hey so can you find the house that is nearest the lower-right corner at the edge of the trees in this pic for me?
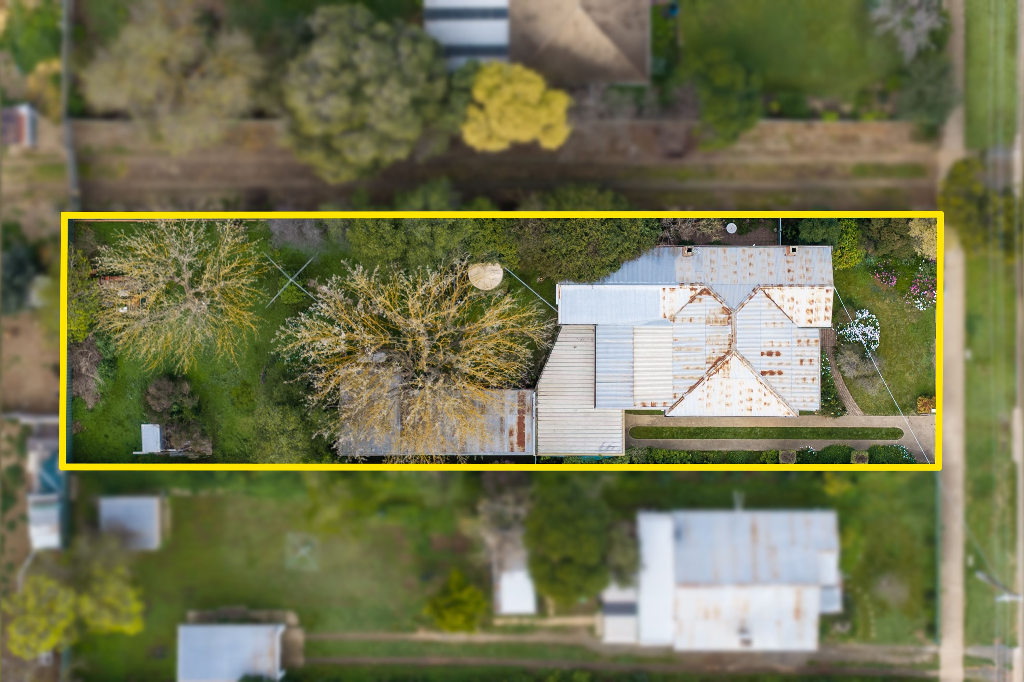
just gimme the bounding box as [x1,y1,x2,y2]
[638,509,842,652]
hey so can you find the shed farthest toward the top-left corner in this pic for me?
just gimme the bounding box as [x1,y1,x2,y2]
[0,104,40,148]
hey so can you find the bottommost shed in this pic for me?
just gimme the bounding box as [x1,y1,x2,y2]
[178,620,283,682]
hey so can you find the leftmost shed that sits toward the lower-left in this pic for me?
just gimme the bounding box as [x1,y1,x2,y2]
[27,495,63,548]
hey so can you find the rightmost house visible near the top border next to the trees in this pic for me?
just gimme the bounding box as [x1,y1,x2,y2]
[510,0,652,86]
